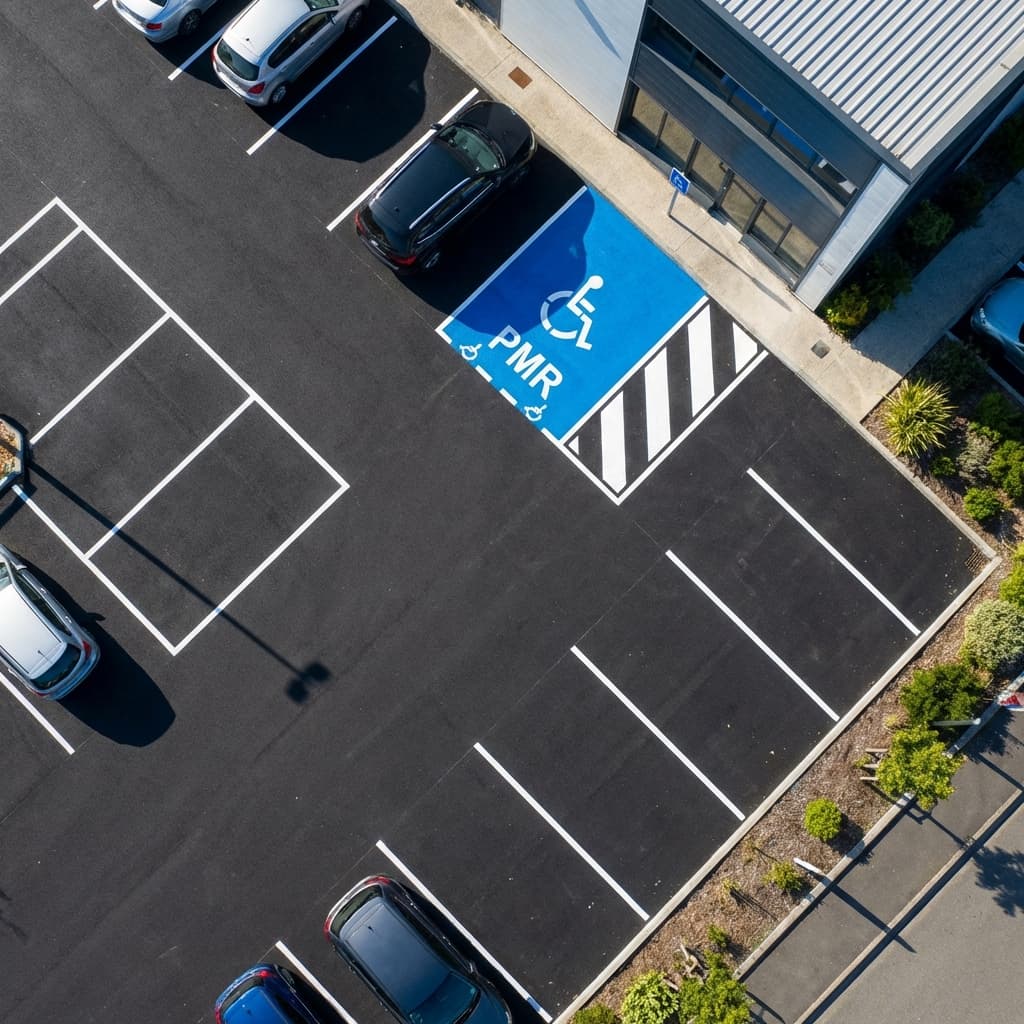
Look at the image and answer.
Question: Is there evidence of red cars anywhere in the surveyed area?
No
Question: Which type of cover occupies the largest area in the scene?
paved ground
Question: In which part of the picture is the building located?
top right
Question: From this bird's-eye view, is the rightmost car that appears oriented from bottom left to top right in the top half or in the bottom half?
top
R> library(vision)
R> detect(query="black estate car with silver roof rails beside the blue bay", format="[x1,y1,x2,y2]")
[351,98,539,275]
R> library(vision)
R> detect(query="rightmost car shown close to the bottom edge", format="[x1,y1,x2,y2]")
[323,874,514,1024]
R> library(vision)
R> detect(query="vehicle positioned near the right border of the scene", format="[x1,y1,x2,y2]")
[974,266,1024,371]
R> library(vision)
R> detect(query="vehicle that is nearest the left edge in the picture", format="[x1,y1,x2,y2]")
[0,534,102,699]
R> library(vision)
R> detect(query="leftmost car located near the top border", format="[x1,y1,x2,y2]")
[112,0,213,41]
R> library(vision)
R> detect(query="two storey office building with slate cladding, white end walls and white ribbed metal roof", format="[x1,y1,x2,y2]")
[473,0,1024,309]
